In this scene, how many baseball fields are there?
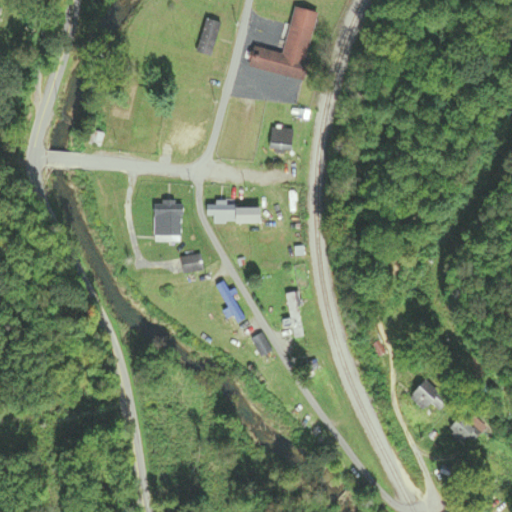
none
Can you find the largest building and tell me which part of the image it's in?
top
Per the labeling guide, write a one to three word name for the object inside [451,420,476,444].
house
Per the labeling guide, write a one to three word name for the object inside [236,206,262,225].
building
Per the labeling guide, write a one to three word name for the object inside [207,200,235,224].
house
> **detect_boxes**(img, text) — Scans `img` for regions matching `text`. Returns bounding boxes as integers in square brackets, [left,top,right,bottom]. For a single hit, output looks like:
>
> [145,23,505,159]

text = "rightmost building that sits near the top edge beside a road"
[246,5,318,78]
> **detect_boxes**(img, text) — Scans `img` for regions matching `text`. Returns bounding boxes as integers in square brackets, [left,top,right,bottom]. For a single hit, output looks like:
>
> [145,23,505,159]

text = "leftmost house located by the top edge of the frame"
[196,17,220,54]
